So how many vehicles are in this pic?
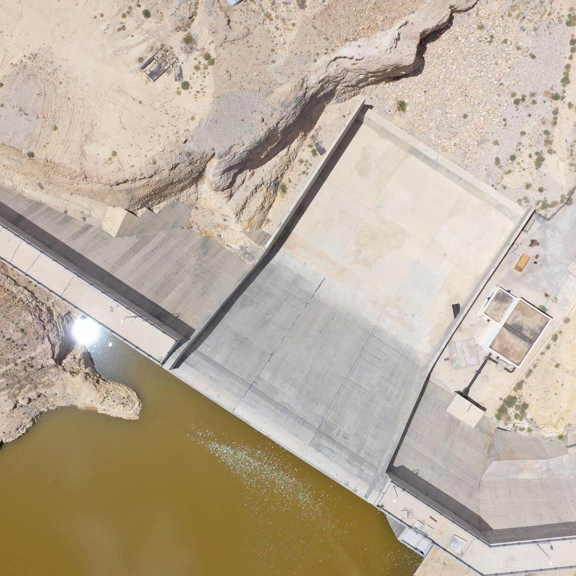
none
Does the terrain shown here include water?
Yes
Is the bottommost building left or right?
right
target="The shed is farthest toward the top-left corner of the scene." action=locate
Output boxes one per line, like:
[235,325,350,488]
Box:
[141,46,177,84]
